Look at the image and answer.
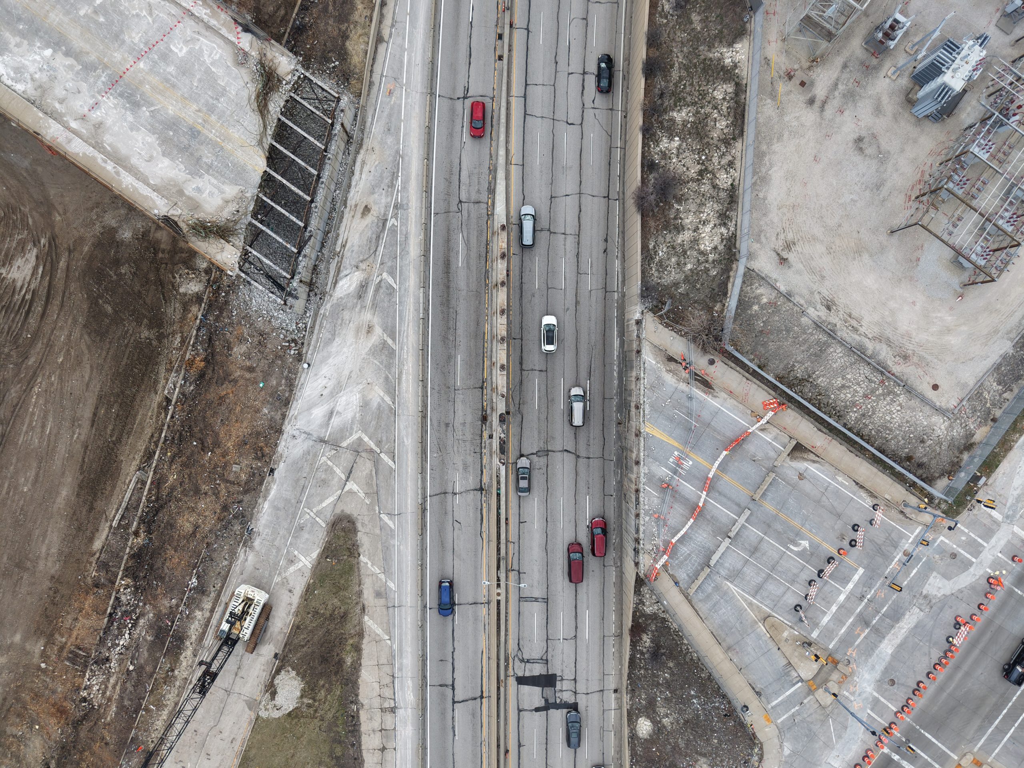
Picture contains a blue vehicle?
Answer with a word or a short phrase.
Yes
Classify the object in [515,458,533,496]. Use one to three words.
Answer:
car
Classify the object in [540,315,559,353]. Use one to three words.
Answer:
car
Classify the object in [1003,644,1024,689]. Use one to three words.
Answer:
truck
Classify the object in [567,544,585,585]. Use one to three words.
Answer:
vehicle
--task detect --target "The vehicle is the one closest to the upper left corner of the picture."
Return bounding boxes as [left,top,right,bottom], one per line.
[468,98,486,137]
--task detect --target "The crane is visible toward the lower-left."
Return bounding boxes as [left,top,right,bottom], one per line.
[131,583,281,768]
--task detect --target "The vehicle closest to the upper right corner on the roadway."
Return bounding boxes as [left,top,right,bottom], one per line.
[596,51,615,93]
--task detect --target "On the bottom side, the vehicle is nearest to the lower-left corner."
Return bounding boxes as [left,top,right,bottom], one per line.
[436,580,453,617]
